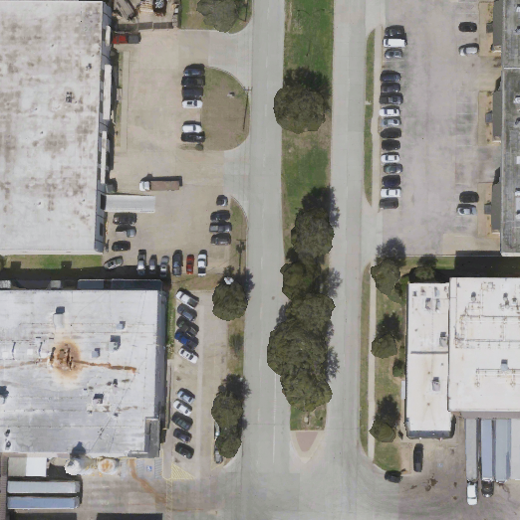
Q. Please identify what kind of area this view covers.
industrial area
